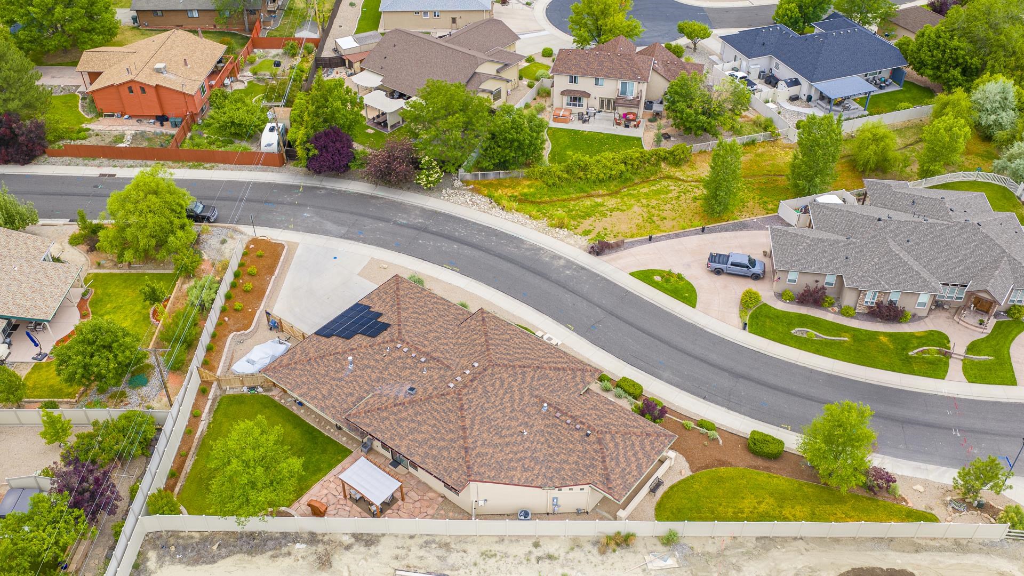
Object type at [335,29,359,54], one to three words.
shed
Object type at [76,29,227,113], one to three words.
house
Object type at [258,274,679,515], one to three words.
house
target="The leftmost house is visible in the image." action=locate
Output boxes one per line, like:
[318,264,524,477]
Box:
[0,225,83,340]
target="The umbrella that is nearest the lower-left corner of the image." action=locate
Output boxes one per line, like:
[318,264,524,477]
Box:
[17,327,44,360]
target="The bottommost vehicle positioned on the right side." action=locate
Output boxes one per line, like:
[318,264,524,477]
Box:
[705,250,771,281]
